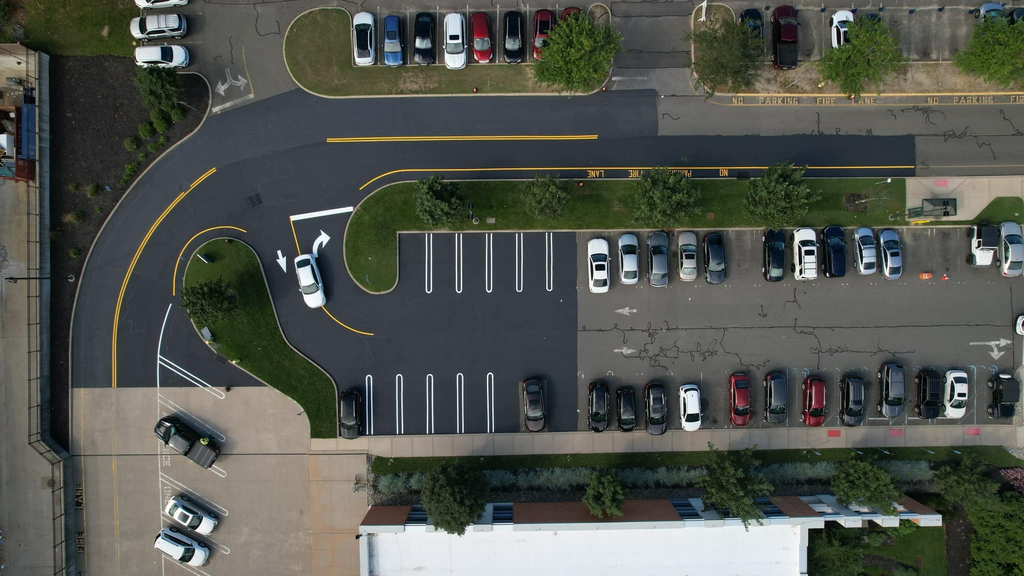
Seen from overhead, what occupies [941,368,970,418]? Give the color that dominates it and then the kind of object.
white car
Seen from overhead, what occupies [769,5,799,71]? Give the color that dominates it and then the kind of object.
black truck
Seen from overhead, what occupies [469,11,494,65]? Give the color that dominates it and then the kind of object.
red car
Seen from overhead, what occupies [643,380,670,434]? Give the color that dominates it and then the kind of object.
black car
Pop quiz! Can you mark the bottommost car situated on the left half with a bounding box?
[153,523,212,567]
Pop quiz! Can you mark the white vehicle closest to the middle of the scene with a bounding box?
[587,238,612,293]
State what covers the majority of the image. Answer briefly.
paved ground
